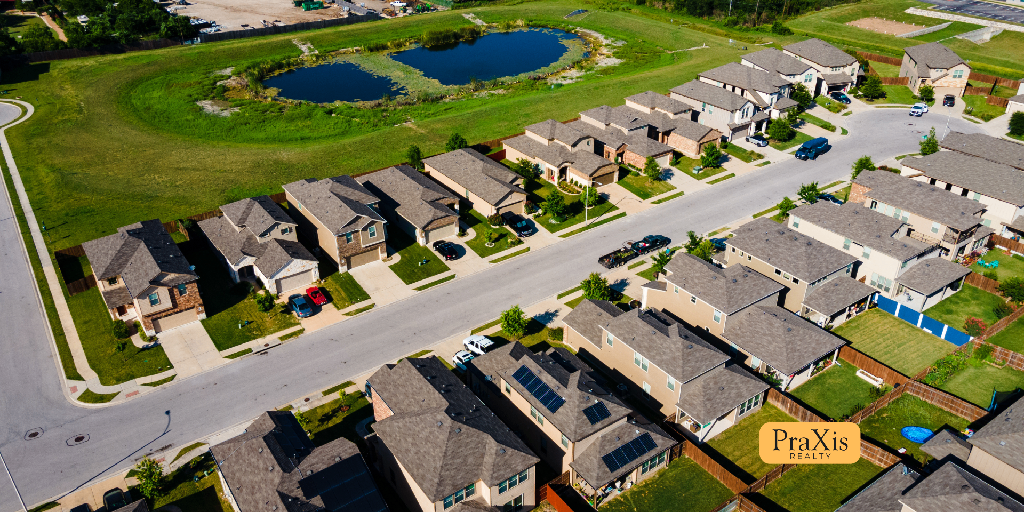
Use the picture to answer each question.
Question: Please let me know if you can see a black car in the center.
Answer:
Yes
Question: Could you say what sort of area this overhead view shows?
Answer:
residential area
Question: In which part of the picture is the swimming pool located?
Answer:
bottom right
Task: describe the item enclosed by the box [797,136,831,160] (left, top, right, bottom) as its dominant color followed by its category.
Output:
blue vehicle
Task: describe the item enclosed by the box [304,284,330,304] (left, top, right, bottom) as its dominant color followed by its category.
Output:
red car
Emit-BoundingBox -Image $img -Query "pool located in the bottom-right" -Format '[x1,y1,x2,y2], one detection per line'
[901,420,936,444]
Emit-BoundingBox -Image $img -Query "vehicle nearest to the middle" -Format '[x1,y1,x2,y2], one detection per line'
[504,211,536,234]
